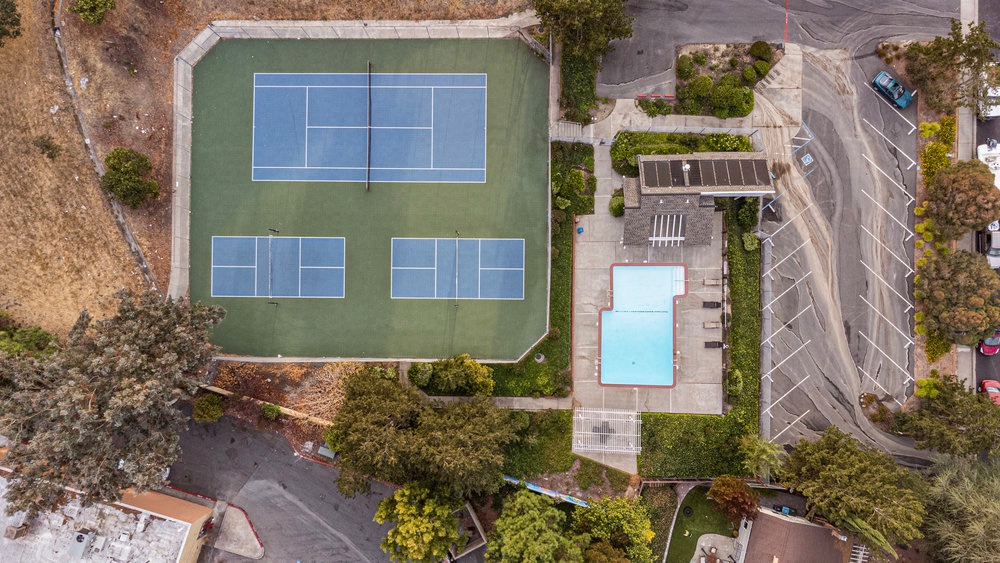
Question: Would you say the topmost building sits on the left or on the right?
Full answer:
You can find the topmost building on the right side of the picture.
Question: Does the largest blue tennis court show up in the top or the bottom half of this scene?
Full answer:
It is in the top half that the largest blue tennis court appears.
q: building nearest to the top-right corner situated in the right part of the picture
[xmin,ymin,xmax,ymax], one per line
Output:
[620,151,775,247]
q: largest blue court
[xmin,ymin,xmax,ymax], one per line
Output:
[252,72,487,183]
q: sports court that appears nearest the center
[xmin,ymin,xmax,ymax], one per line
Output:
[391,238,524,300]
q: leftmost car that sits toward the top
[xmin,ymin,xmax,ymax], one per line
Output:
[871,69,915,109]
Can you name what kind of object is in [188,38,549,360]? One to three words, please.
sports court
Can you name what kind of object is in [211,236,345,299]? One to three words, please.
sports court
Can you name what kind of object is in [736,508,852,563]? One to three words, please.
house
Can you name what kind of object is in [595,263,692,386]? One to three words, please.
swimming pool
